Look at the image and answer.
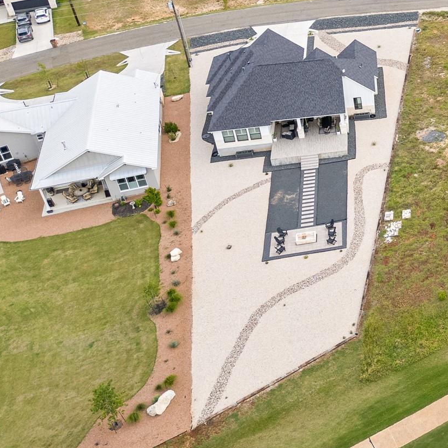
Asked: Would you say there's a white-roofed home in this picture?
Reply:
Yes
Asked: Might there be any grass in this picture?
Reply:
Yes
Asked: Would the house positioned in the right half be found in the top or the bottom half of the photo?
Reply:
top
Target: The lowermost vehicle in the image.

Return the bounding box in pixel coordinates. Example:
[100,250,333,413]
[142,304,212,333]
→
[12,26,36,45]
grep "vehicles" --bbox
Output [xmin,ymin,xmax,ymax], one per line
[11,8,33,25]
[12,26,36,45]
[31,8,52,25]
